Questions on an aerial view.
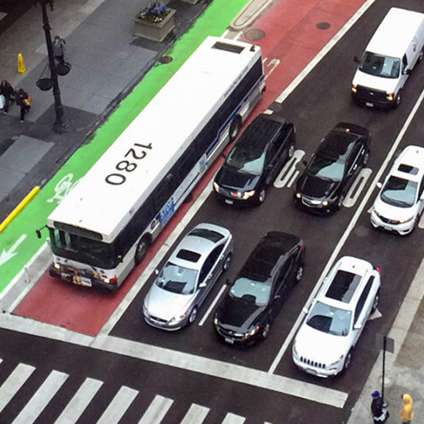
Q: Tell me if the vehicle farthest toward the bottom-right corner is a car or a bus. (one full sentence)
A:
Looking closely, the vehicle farthest toward the bottom-right corner is a car.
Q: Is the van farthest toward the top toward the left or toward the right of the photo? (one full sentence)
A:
The van farthest toward the top sits on the right side.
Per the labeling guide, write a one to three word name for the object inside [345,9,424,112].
van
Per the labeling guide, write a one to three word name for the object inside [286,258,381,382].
car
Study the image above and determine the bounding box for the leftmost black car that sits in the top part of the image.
[208,109,298,210]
